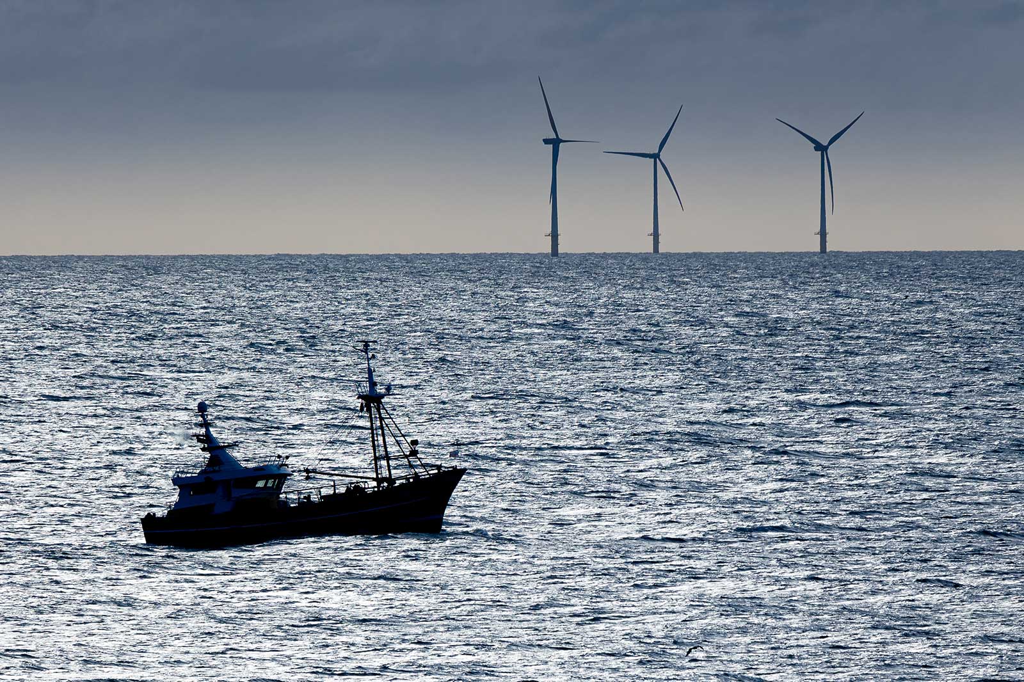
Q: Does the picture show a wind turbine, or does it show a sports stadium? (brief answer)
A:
wind turbine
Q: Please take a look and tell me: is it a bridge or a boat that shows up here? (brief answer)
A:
boat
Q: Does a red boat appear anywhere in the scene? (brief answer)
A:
No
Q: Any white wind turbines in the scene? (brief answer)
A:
No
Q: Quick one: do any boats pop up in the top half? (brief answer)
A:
No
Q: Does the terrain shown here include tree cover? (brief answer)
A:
No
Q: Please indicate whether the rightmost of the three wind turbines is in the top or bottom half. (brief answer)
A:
top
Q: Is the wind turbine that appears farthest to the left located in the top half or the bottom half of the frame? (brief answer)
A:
top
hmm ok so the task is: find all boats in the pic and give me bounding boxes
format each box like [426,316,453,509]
[141,341,467,542]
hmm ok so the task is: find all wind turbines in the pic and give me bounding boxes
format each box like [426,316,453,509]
[538,75,598,256]
[776,111,864,253]
[604,105,685,253]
